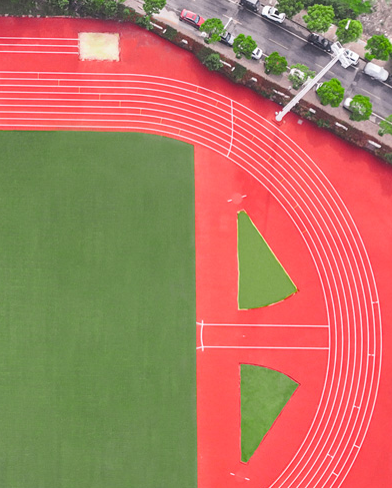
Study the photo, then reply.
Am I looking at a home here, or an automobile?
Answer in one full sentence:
There is an automobile in the scene.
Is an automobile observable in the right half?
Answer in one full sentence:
Yes, looking in the right half, one can make out an automobile.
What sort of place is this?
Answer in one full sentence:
The picture captures a sports ground.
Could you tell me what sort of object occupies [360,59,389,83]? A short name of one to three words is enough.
car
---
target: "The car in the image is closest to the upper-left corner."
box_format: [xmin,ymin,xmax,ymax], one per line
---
[178,8,204,30]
